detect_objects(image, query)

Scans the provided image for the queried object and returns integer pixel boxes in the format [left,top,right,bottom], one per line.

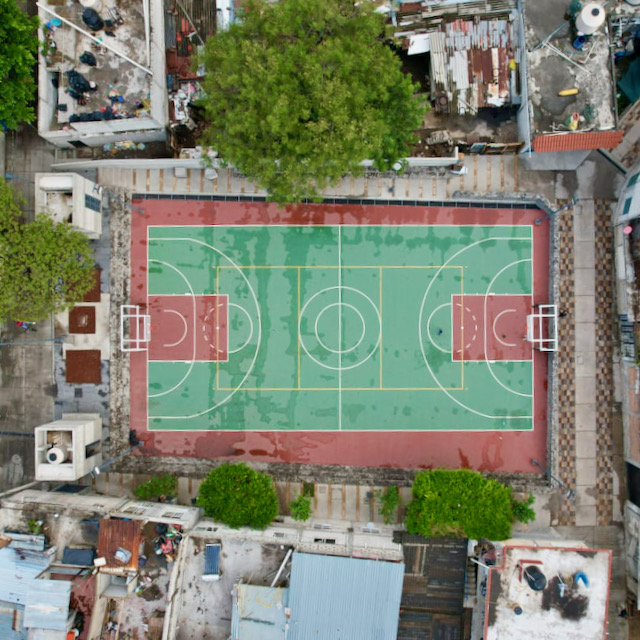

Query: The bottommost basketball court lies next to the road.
[131,202,549,474]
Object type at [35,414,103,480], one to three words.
water tower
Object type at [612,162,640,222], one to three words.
house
